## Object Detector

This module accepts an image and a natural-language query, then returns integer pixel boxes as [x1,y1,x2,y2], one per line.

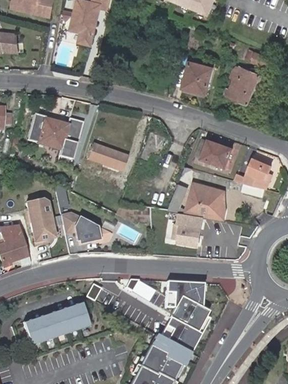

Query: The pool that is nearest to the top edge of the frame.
[56,44,74,68]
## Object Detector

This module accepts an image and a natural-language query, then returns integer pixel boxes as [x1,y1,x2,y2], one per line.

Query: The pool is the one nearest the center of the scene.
[115,224,141,244]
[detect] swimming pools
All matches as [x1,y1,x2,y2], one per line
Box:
[56,44,74,68]
[115,224,141,244]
